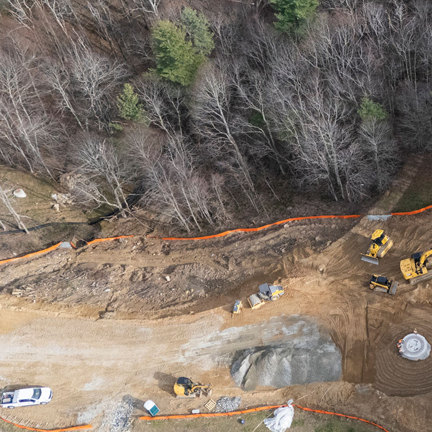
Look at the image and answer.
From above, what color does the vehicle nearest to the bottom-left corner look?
white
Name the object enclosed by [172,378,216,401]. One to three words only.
work vehicle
